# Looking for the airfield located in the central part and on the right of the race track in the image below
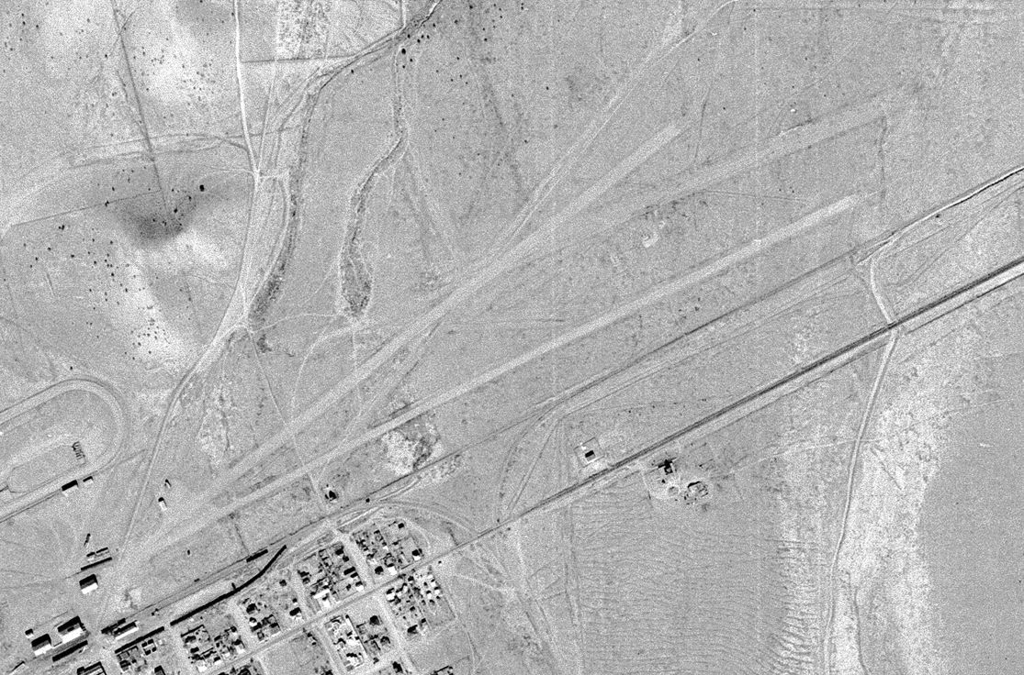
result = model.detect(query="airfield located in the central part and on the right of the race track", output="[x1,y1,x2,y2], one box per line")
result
[101,79,925,575]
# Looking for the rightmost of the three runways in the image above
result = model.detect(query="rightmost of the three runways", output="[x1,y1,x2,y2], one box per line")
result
[511,79,925,269]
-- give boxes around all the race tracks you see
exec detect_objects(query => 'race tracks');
[0,376,133,521]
